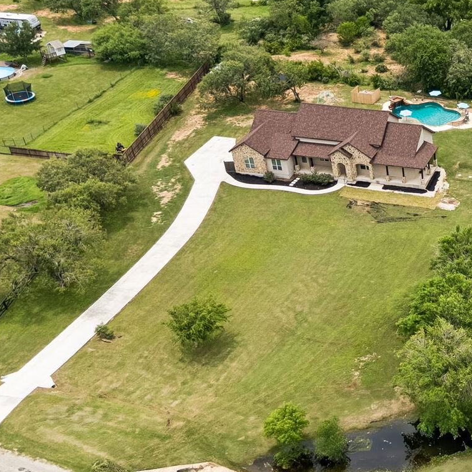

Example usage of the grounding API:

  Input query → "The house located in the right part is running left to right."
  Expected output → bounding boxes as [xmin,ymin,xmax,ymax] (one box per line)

[225,103,438,191]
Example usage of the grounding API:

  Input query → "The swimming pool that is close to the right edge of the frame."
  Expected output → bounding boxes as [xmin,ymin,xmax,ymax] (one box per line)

[378,89,463,126]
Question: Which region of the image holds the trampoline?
top left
